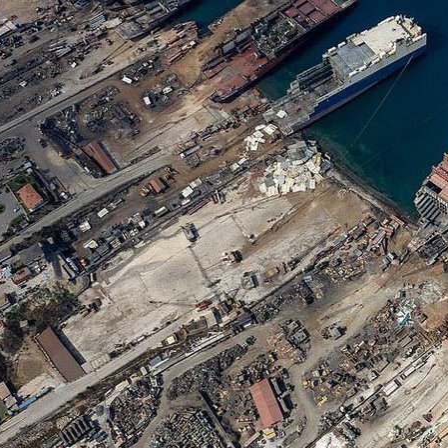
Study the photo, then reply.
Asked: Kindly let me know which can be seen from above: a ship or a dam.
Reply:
ship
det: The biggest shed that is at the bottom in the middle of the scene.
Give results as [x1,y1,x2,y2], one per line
[250,381,283,427]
